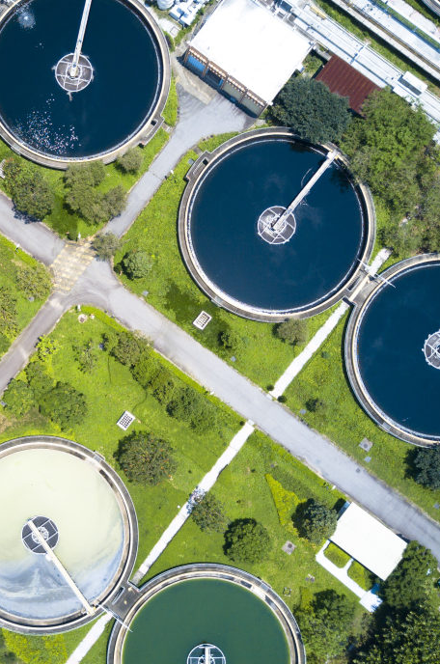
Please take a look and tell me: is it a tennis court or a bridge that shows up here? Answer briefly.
bridge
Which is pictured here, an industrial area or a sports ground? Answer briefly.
industrial area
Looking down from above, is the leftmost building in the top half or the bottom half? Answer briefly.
top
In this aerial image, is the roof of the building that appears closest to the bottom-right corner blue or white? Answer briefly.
white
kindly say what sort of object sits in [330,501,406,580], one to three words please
building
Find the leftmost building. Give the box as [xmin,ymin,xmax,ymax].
[183,0,311,114]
